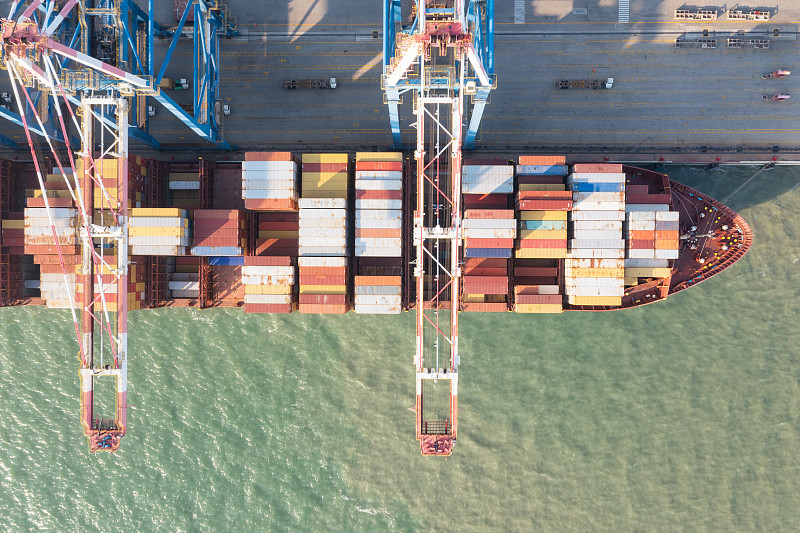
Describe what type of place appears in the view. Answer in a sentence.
This image shows a port.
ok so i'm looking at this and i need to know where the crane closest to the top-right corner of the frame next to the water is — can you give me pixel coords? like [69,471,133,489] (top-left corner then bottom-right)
[373,0,497,463]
